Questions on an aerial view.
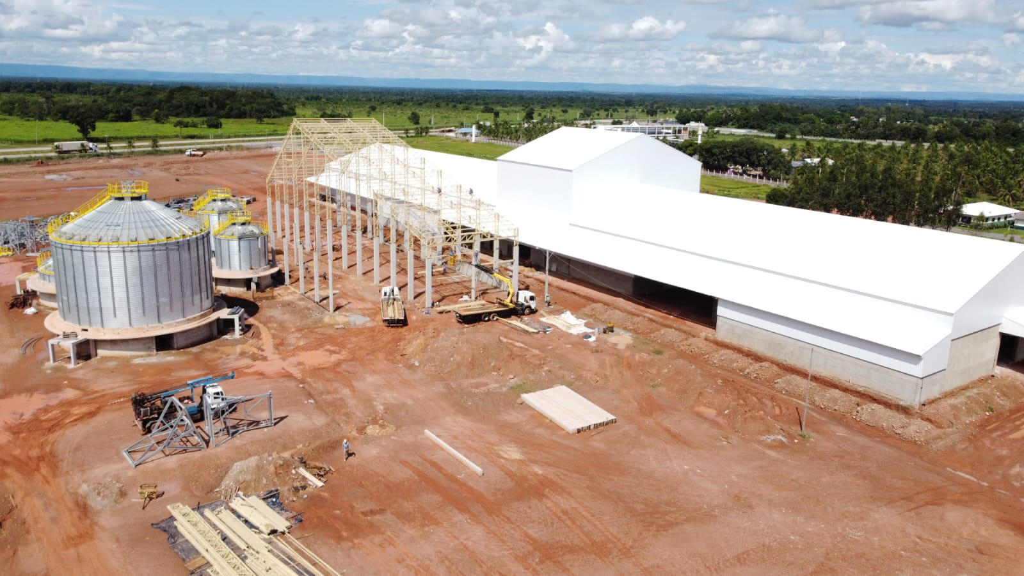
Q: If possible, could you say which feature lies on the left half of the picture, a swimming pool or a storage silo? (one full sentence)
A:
The feature located on the left half of the picture is a storage silo.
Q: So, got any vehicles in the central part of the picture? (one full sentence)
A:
Yes, there is a vehicle in the central part of the picture.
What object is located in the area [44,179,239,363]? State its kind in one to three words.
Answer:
silo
